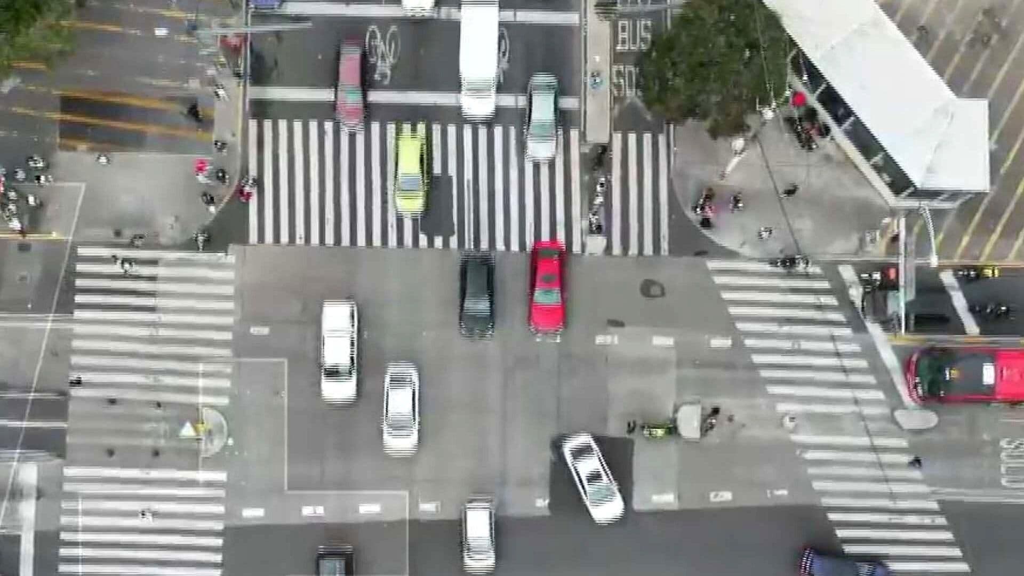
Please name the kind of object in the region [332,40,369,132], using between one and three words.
car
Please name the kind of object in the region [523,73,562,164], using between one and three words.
car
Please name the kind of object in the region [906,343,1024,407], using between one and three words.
bus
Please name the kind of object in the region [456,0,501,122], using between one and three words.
van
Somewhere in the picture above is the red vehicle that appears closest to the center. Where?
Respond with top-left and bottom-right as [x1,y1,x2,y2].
[527,240,569,337]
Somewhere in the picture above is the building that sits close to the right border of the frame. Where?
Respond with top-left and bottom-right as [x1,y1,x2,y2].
[747,0,990,212]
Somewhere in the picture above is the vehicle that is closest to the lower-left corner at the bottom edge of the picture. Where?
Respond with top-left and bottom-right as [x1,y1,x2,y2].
[318,544,354,576]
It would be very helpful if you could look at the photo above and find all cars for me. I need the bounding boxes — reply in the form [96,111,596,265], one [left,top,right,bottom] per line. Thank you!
[379,362,422,457]
[332,40,369,132]
[317,299,360,404]
[457,251,497,339]
[390,122,430,218]
[404,0,435,19]
[798,551,894,576]
[318,544,354,576]
[458,495,499,574]
[562,431,623,525]
[523,73,562,164]
[527,240,569,337]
